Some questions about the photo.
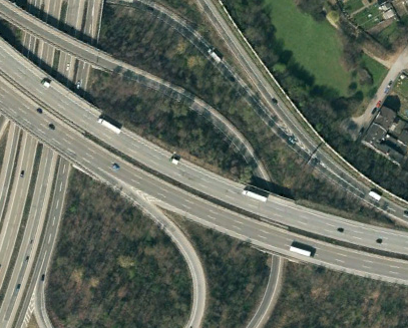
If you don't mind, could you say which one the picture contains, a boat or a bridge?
bridge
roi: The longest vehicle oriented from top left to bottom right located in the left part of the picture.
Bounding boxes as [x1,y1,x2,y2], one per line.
[98,118,122,134]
